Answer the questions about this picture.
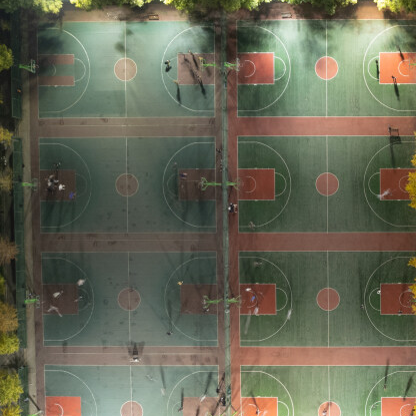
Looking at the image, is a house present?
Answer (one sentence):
No, the frame has no house in it.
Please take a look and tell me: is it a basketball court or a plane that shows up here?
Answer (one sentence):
The image shows a basketball court.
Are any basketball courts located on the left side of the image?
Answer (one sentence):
Yes, you'll find a basketball court on the left side of the image.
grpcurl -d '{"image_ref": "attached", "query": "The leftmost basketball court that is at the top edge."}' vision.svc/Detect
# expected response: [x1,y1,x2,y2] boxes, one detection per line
[37,21,216,117]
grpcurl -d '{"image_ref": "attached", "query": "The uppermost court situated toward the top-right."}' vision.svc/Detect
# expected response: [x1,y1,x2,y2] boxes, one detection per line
[236,21,416,117]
